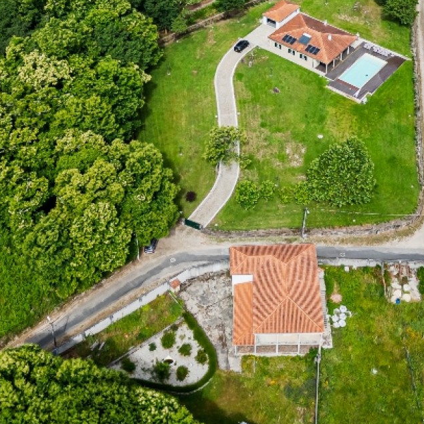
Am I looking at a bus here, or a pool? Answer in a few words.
pool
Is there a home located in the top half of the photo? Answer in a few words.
Yes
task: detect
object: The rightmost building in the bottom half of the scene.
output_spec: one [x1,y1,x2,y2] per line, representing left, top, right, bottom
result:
[229,244,325,364]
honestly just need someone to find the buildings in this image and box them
[229,244,325,364]
[167,277,182,293]
[266,13,358,77]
